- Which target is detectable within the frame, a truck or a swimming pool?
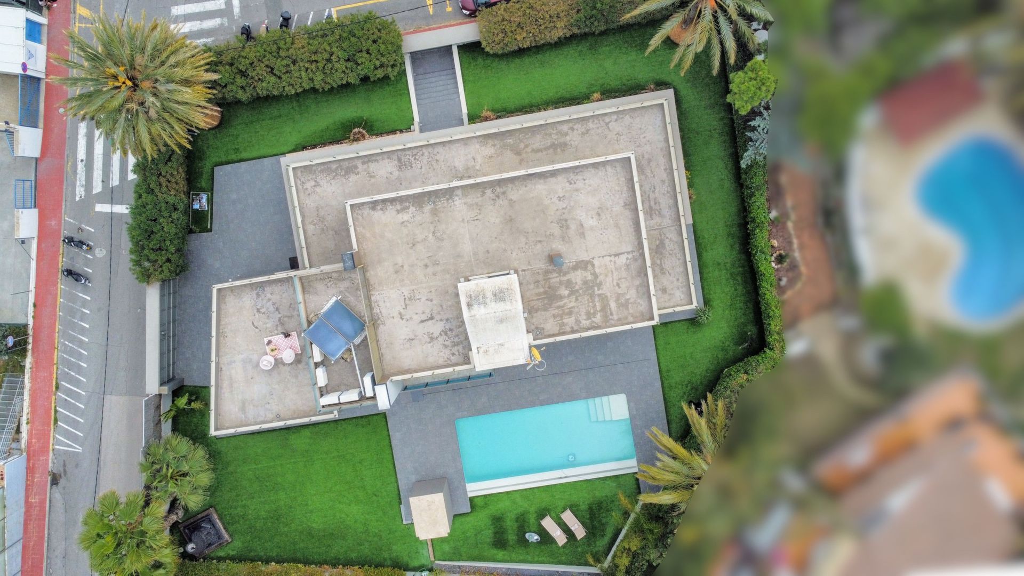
swimming pool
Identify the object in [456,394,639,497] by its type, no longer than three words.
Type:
swimming pool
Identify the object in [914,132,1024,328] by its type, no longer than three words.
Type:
swimming pool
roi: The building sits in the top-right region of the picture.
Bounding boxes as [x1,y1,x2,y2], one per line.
[875,59,982,151]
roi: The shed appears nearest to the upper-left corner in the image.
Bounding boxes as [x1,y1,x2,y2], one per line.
[0,8,45,82]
